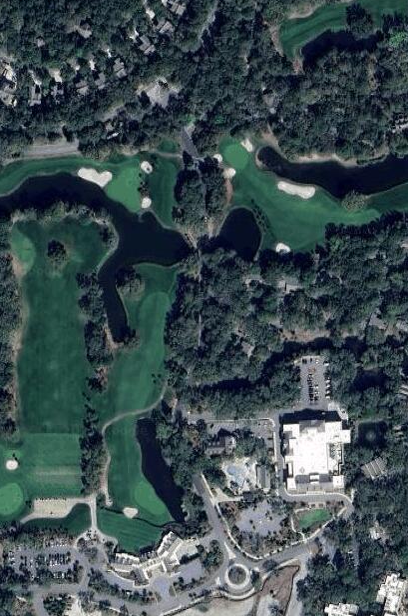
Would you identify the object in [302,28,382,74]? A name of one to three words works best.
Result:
pond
